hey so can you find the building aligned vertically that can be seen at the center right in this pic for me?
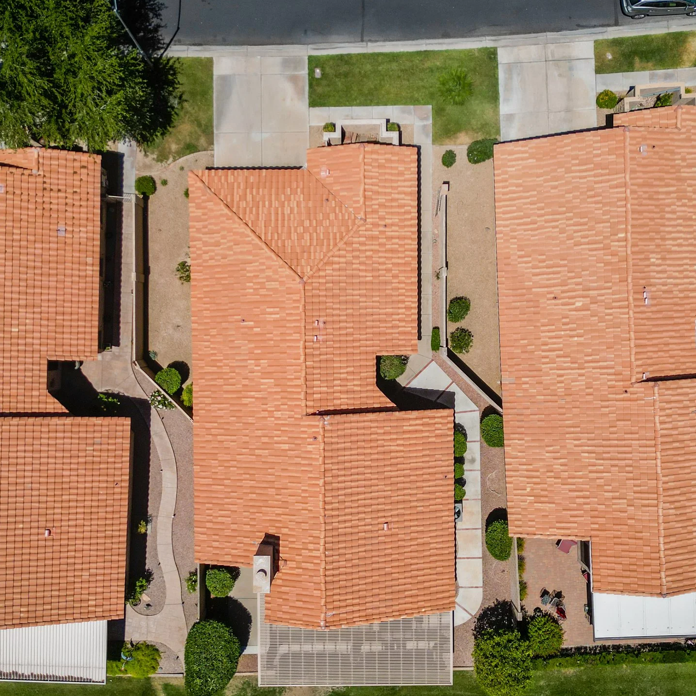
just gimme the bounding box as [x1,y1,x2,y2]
[495,102,696,595]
